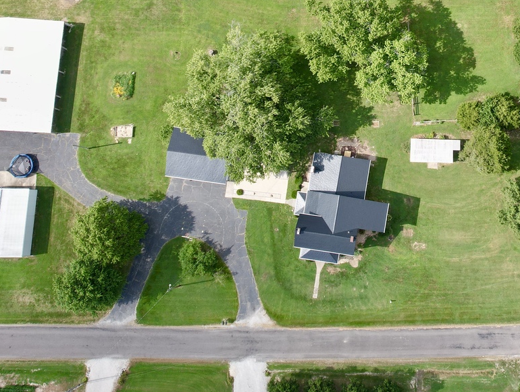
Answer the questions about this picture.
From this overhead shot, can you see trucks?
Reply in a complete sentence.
No, there isn't any truck down there.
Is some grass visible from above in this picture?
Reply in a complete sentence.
Yes, some grass is visible.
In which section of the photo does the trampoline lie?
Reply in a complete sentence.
The trampoline appears toward the left of the photo.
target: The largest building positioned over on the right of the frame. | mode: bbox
[294,148,389,264]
